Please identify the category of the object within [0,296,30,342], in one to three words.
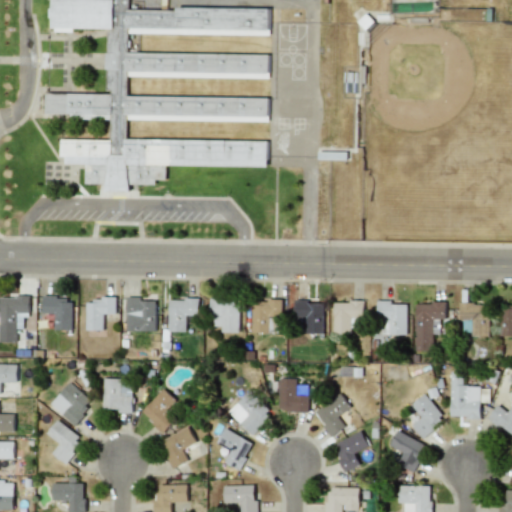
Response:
house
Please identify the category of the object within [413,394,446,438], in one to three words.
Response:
house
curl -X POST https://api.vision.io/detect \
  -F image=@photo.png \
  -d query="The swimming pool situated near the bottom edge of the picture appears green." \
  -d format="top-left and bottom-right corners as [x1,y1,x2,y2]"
[38,484,52,508]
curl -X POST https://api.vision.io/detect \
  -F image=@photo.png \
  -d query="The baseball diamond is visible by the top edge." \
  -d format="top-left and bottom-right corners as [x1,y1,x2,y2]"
[368,24,475,134]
